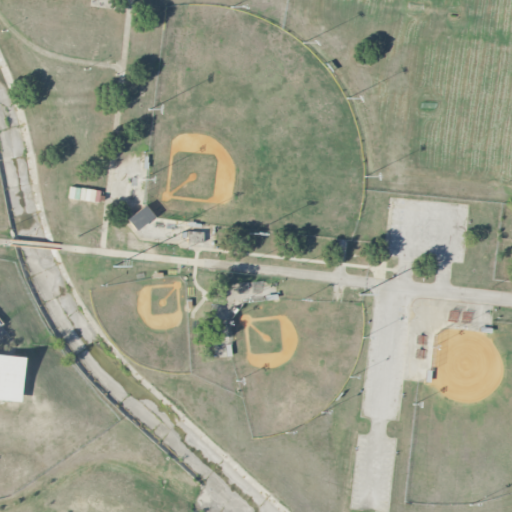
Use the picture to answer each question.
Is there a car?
No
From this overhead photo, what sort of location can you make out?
sports ground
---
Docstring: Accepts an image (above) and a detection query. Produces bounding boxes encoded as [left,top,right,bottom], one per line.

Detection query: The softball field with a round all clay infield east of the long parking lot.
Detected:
[407,329,512,504]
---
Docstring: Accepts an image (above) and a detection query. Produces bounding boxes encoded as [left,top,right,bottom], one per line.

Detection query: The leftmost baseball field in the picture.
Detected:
[90,276,190,374]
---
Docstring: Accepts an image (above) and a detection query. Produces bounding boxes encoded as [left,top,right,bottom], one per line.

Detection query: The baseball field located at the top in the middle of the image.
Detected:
[152,4,366,237]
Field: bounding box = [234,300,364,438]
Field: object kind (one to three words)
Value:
baseball field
